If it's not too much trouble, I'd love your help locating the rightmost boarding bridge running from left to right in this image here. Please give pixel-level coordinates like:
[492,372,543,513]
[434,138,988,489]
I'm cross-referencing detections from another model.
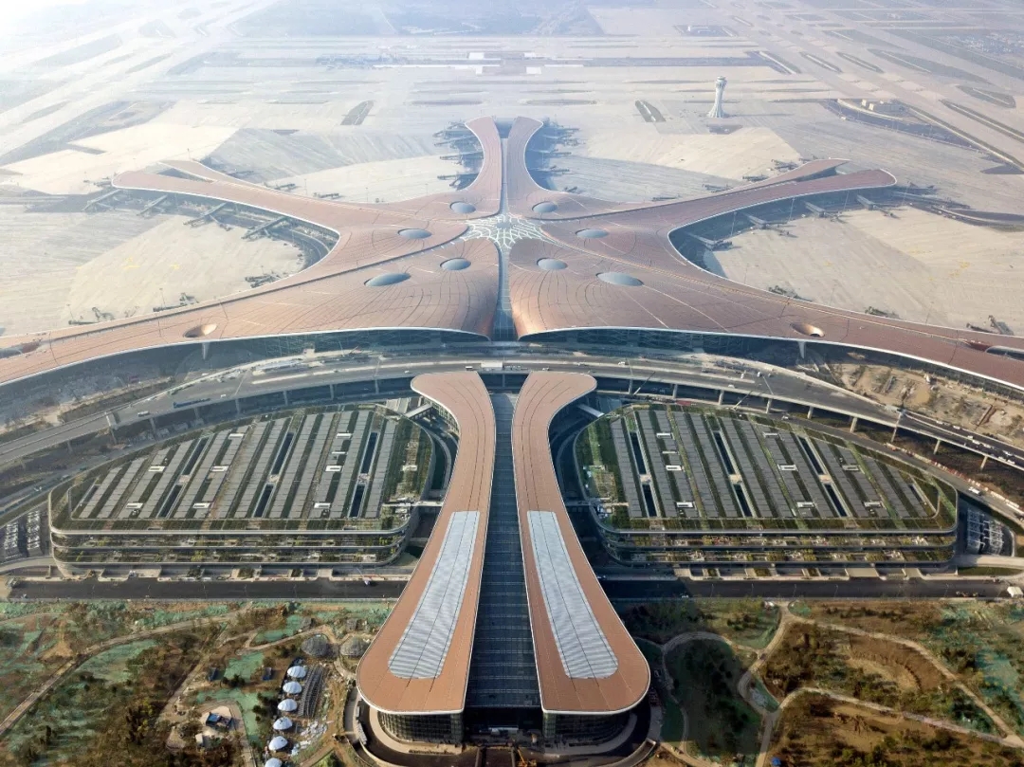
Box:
[964,323,1003,336]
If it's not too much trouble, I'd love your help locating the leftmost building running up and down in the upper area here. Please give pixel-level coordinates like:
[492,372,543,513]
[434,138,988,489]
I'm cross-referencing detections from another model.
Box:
[708,76,730,120]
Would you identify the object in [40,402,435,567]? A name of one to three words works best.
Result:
building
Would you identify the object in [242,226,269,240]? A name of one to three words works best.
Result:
jet bridge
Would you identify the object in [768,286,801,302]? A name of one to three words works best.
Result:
jet bridge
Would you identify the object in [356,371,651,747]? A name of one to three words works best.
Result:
building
